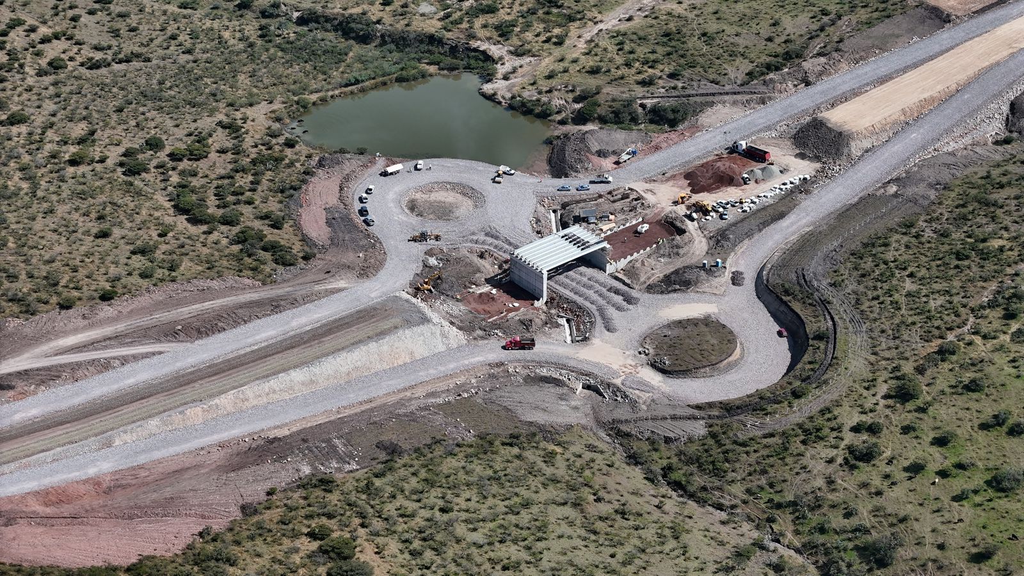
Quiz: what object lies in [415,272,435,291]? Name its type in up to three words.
work vehicle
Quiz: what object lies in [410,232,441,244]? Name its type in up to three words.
vehicle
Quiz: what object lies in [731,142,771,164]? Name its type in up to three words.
truck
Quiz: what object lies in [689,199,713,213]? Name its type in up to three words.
work vehicle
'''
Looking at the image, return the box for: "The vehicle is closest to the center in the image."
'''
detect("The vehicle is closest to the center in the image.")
[503,337,535,352]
